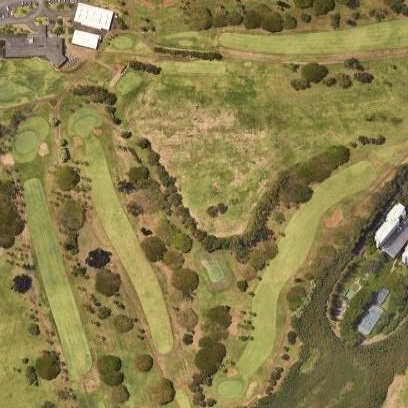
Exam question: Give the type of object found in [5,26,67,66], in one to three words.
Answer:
building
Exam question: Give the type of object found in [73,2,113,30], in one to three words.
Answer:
shed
